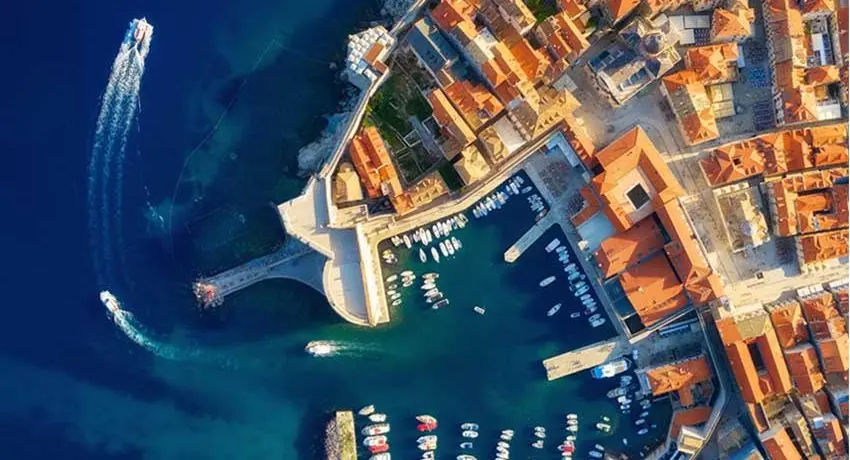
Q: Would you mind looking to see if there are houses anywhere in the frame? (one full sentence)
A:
Yes, the picture does show a house.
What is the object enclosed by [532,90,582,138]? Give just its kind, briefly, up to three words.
house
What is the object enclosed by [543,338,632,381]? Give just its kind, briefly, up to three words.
pier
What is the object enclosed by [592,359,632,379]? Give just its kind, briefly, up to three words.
boat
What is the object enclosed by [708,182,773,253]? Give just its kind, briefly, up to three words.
building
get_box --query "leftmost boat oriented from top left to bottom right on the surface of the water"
[100,291,116,310]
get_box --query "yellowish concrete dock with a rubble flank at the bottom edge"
[336,410,357,460]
